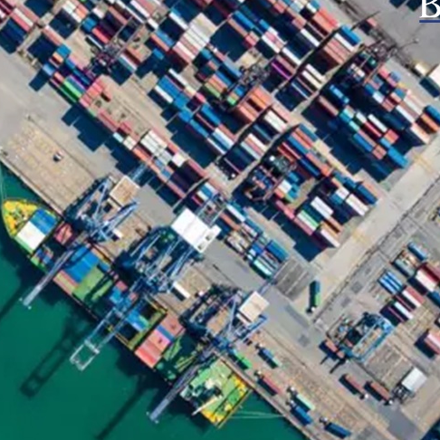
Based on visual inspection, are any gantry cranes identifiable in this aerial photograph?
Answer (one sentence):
Yes, a gantry crane appears in the view.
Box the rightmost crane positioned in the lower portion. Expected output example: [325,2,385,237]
[331,305,397,366]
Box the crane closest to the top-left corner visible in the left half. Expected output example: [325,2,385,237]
[87,15,143,81]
